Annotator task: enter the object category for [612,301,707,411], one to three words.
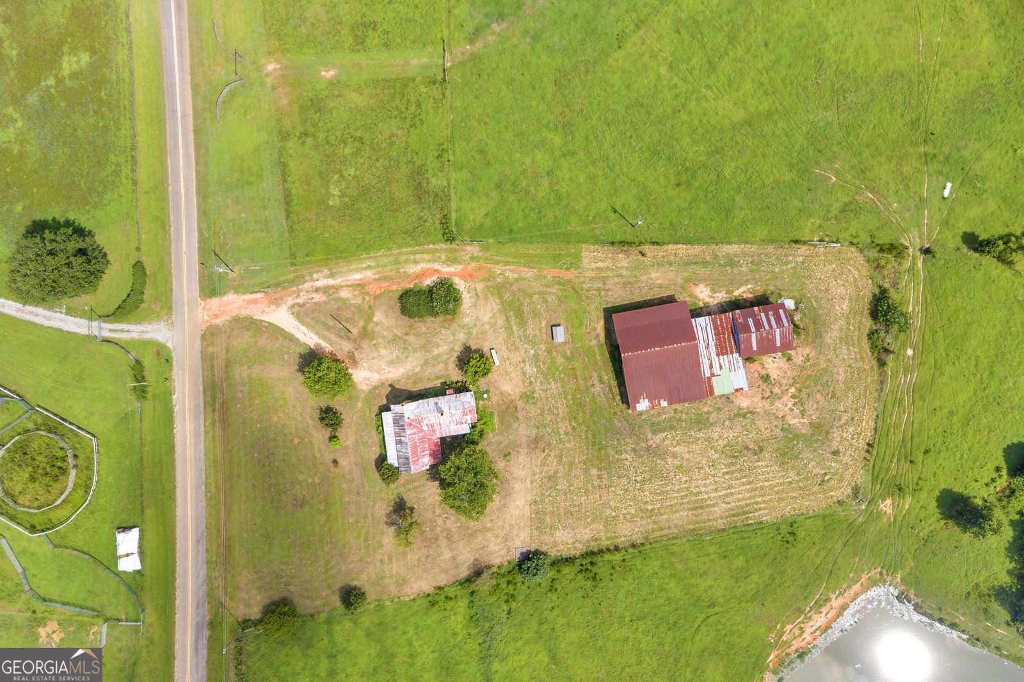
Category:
barn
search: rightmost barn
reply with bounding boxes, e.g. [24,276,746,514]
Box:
[729,303,793,358]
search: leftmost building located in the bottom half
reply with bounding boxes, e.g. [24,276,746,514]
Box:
[382,389,477,473]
